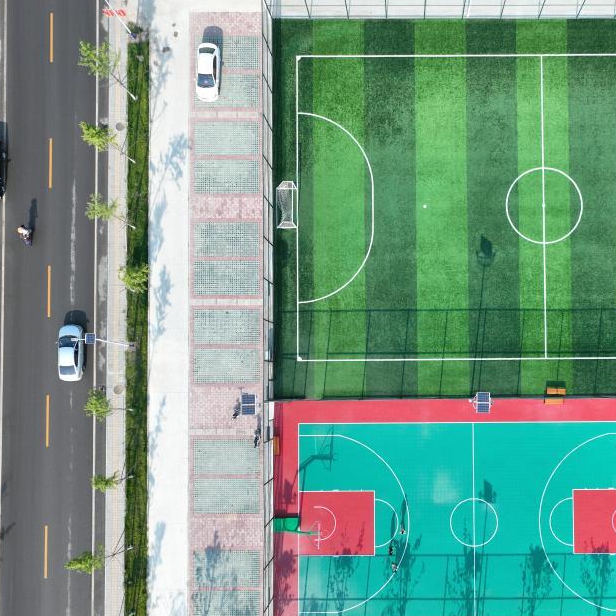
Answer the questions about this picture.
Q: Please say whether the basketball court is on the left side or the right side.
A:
right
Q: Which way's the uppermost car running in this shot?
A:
vertically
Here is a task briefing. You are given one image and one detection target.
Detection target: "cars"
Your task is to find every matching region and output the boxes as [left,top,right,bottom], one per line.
[57,324,87,383]
[0,140,9,201]
[195,43,222,104]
